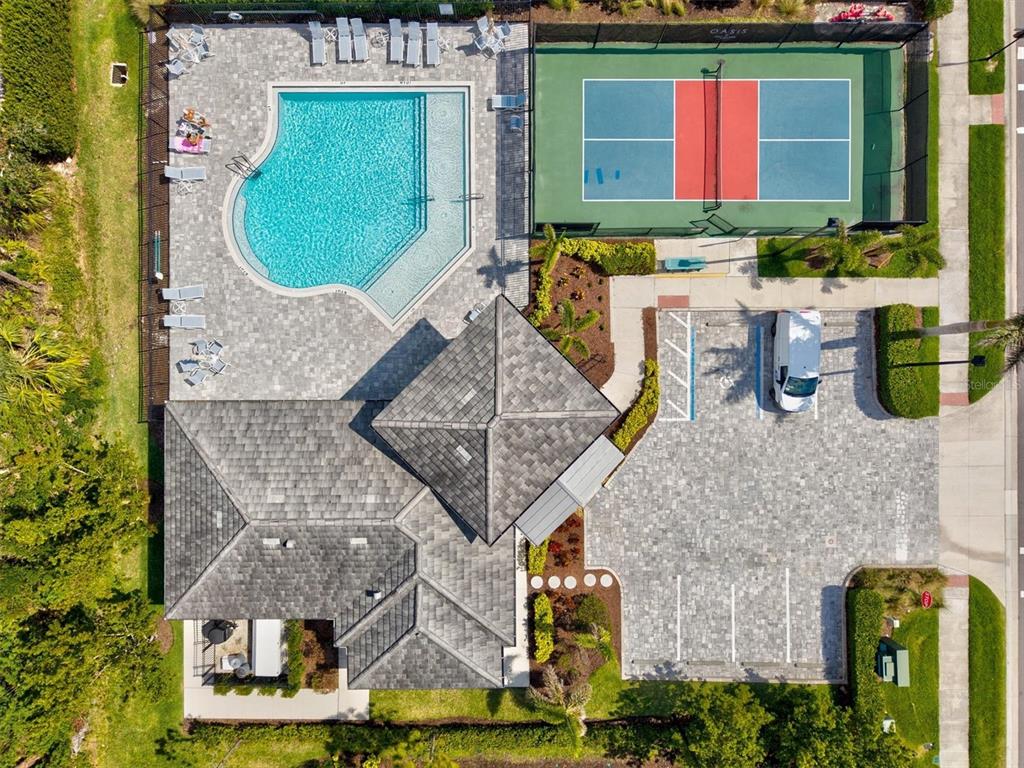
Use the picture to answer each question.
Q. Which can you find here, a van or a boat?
van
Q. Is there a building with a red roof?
No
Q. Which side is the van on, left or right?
right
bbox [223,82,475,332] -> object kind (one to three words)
swimming pool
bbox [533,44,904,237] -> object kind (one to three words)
sports court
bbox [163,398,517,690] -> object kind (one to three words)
building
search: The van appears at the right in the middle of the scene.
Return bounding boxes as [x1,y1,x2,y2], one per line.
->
[771,307,826,412]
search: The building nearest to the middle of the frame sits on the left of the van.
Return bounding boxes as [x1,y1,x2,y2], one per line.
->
[367,291,622,546]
